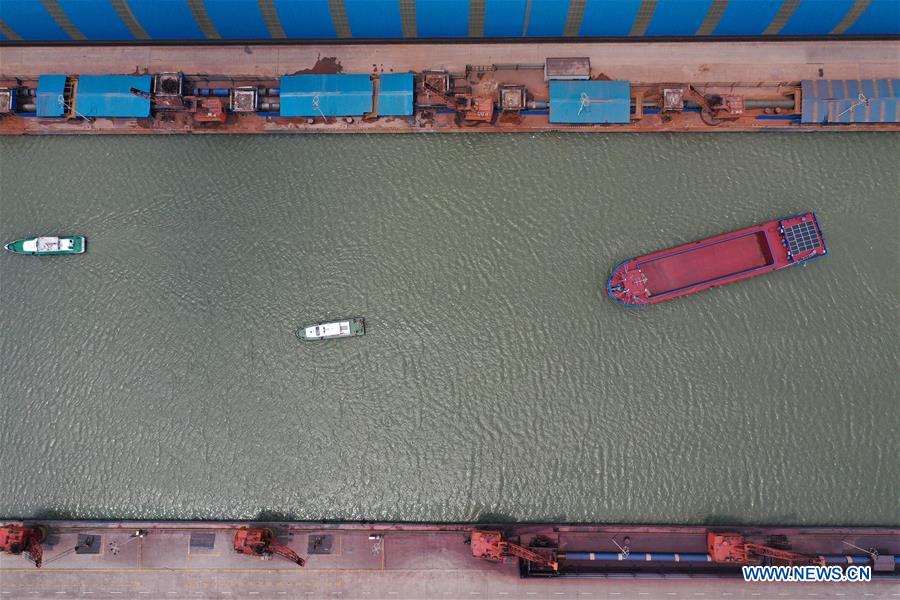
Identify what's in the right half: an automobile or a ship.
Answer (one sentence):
Visible in the right half is a ship.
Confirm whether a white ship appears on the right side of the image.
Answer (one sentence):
No, no white ship can be made out on the right side of the image.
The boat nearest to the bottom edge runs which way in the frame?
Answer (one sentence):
I'd say the boat nearest to the bottom edge is aligned from left to right in the picture.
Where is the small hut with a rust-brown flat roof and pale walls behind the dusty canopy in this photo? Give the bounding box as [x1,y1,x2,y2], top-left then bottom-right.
[546,58,590,79]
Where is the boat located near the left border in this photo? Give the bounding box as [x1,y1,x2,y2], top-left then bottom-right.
[3,236,89,255]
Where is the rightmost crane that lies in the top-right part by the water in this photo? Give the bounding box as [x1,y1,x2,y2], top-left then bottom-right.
[686,83,741,126]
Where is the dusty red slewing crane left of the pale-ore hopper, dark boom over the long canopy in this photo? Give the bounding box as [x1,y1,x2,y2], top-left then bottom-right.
[128,85,234,126]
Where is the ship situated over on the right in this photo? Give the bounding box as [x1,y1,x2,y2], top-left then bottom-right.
[606,209,829,304]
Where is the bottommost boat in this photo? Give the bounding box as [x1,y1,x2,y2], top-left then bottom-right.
[295,318,367,341]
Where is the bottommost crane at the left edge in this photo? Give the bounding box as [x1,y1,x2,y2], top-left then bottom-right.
[0,519,78,569]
